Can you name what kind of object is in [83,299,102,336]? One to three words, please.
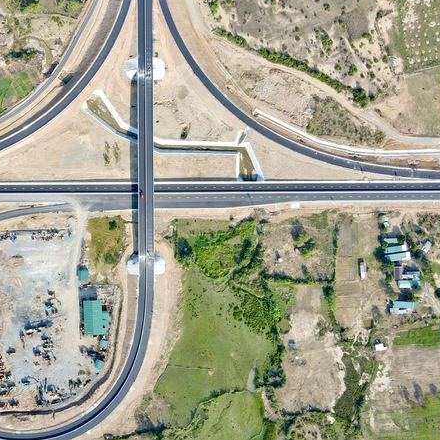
building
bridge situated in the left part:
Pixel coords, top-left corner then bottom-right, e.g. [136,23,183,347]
[137,0,153,259]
